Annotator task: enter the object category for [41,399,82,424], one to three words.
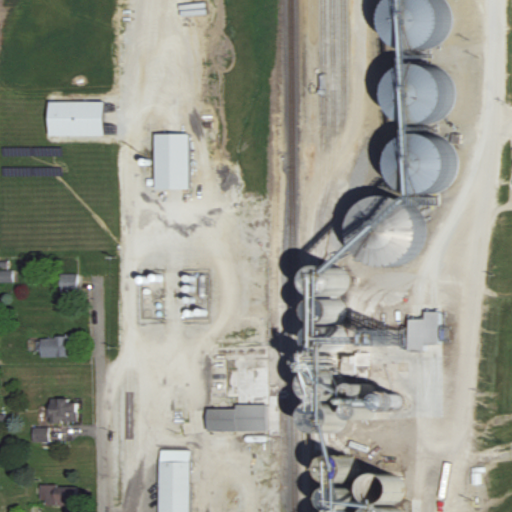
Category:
house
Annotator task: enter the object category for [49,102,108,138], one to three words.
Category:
shed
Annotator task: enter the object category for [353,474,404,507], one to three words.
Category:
silo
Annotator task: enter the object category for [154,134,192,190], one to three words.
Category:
building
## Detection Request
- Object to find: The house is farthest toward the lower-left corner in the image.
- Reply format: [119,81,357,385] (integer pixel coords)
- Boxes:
[40,484,80,505]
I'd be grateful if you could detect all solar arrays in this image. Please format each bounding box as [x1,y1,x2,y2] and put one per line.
[2,168,63,176]
[2,148,63,156]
